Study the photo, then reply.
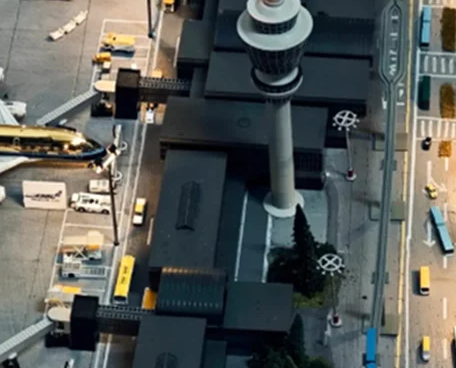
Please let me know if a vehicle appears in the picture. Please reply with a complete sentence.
Yes, a vehicle is visible in the scene.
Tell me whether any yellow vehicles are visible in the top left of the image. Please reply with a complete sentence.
Yes, a yellow vehicle shows up in the top left of the image.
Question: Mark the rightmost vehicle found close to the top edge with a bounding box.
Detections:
[418,7,432,51]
